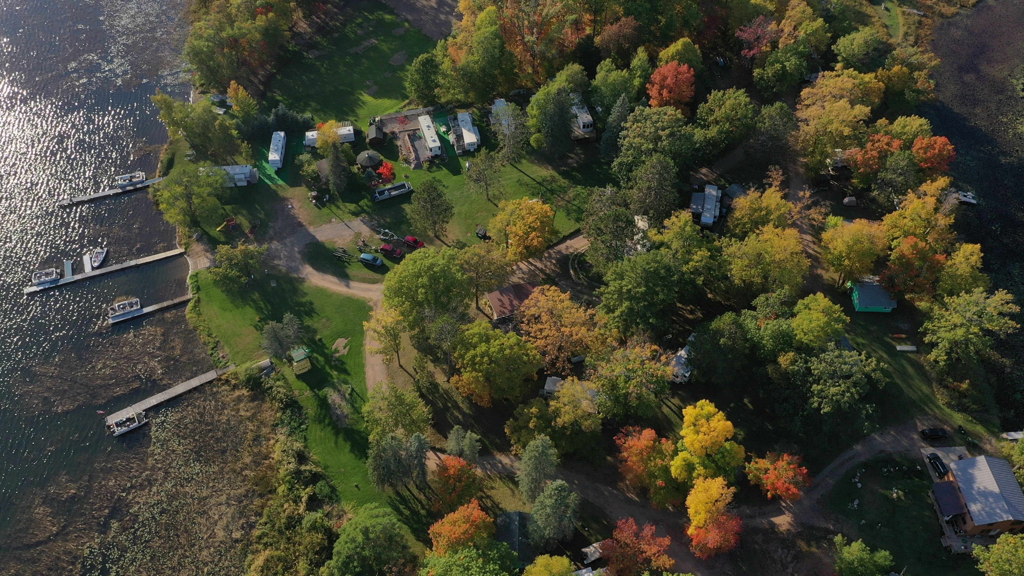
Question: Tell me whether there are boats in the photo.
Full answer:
Yes, there's a boat here.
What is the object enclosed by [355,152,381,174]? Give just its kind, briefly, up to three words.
gazebo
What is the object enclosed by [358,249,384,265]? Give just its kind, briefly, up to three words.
car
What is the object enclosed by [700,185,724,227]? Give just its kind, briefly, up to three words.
trailer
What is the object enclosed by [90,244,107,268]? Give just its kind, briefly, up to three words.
boat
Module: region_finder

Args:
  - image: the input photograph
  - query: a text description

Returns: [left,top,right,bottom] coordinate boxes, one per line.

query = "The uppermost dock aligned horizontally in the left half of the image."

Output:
[60,178,161,206]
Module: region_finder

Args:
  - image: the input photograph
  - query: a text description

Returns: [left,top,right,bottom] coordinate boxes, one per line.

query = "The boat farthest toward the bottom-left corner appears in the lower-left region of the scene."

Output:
[109,409,149,436]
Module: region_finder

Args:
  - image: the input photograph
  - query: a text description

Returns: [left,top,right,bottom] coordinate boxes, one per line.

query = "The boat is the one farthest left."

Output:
[31,266,62,283]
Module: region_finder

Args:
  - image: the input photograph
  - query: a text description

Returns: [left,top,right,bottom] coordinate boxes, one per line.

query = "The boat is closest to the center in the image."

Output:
[373,181,414,201]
